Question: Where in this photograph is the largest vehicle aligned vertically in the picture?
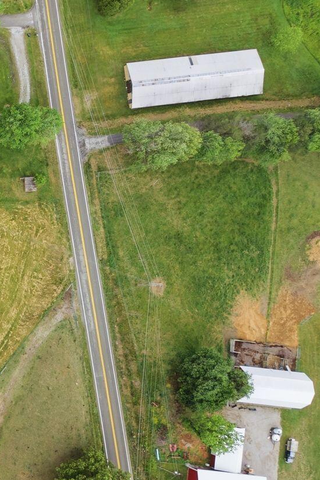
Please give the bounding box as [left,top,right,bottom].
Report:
[284,439,298,461]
